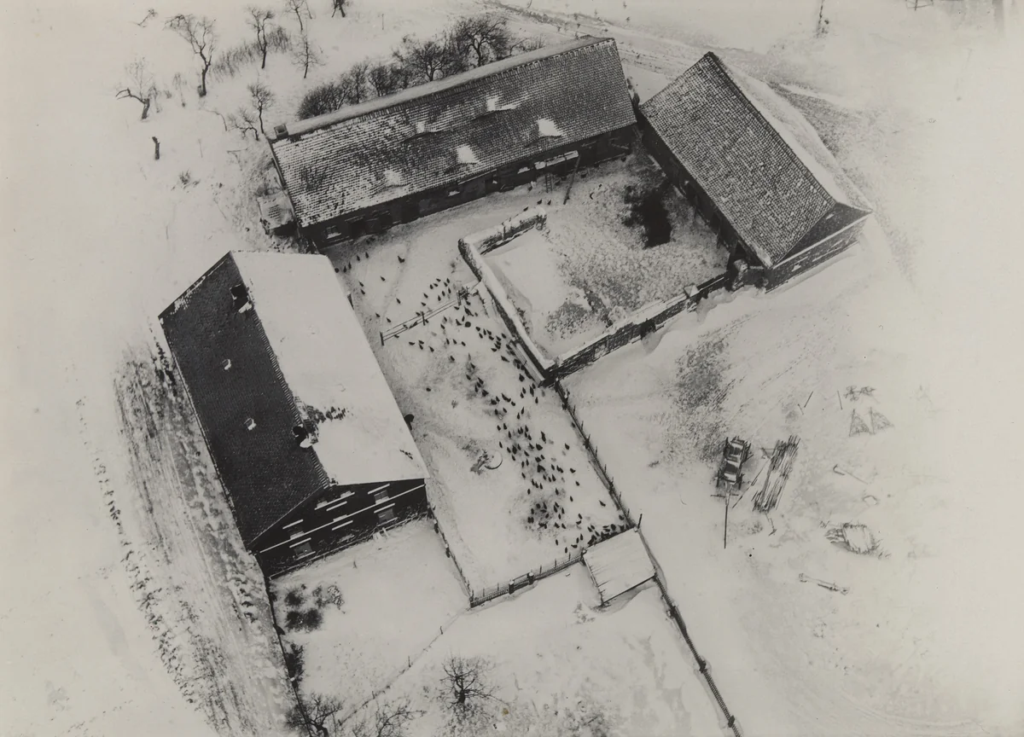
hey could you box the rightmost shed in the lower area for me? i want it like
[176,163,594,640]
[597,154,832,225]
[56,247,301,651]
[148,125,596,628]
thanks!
[582,528,657,607]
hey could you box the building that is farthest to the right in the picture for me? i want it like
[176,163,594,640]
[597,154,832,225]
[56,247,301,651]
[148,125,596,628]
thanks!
[638,49,876,291]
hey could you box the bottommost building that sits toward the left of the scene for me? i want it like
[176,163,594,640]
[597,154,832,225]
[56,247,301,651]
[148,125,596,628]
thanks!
[158,249,431,575]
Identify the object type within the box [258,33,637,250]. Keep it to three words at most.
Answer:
barn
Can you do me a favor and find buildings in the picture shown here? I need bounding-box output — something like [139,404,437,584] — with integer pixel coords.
[158,249,431,575]
[638,49,876,291]
[258,33,637,250]
[582,528,657,607]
